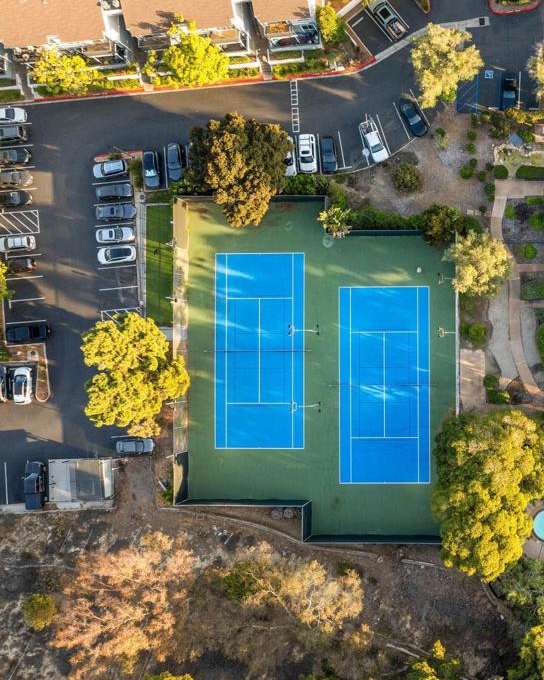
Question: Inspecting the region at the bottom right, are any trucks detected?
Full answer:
No, no truck can be made out at the bottom right.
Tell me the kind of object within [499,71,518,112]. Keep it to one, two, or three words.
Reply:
car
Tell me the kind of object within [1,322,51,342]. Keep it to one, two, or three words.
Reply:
vehicle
